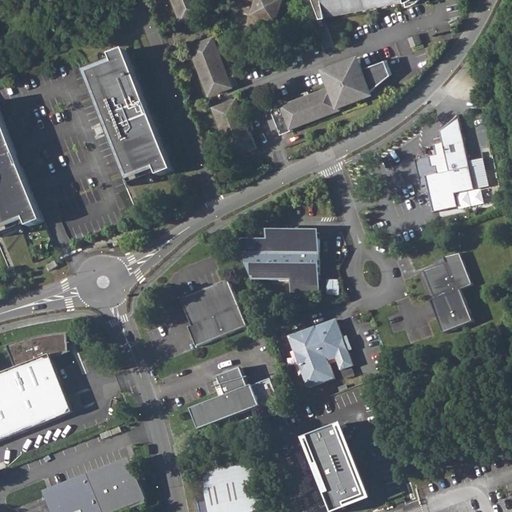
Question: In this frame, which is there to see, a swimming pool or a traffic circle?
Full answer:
Looking from above, you can make out a traffic circle.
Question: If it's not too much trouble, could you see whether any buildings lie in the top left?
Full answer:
Yes, a building shows up in the top left.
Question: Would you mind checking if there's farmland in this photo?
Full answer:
No, the picture contains no farmland.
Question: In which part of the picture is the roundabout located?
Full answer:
The roundabout appears toward the left of the photo.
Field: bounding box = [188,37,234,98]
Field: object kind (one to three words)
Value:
house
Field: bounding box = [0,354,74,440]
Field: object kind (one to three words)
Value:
building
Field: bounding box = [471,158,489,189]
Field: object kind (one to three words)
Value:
shed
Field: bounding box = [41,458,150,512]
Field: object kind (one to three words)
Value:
building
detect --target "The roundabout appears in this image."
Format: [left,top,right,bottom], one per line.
[74,253,132,311]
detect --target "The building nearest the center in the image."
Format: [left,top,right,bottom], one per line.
[240,228,324,294]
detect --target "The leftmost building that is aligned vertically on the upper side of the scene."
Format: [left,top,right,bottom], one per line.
[0,120,47,235]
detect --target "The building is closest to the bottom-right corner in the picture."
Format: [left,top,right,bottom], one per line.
[298,422,371,512]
